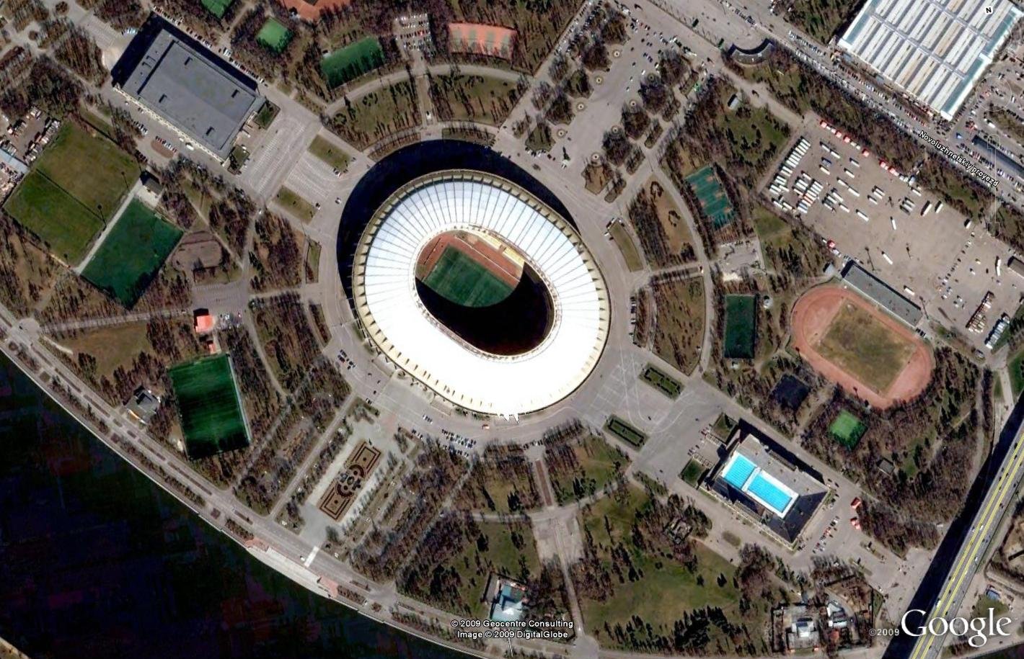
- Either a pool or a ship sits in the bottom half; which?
pool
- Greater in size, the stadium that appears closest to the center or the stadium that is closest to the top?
the stadium that appears closest to the center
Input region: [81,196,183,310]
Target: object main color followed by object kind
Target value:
green sports field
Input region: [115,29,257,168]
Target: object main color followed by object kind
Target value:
gray stadium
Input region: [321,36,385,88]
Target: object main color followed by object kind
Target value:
green sports field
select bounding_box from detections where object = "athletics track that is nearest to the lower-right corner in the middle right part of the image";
[792,287,935,410]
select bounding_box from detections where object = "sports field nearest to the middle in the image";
[419,245,529,349]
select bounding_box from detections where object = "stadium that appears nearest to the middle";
[348,170,610,424]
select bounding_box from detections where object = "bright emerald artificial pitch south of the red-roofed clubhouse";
[169,354,249,459]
